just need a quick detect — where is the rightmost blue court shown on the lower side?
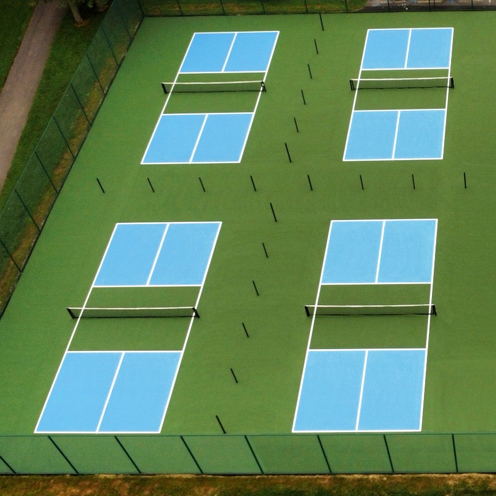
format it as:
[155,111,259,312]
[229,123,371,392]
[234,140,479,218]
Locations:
[294,220,436,431]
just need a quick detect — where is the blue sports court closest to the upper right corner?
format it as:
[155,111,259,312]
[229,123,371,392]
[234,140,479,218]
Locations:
[344,28,452,160]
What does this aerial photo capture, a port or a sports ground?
sports ground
